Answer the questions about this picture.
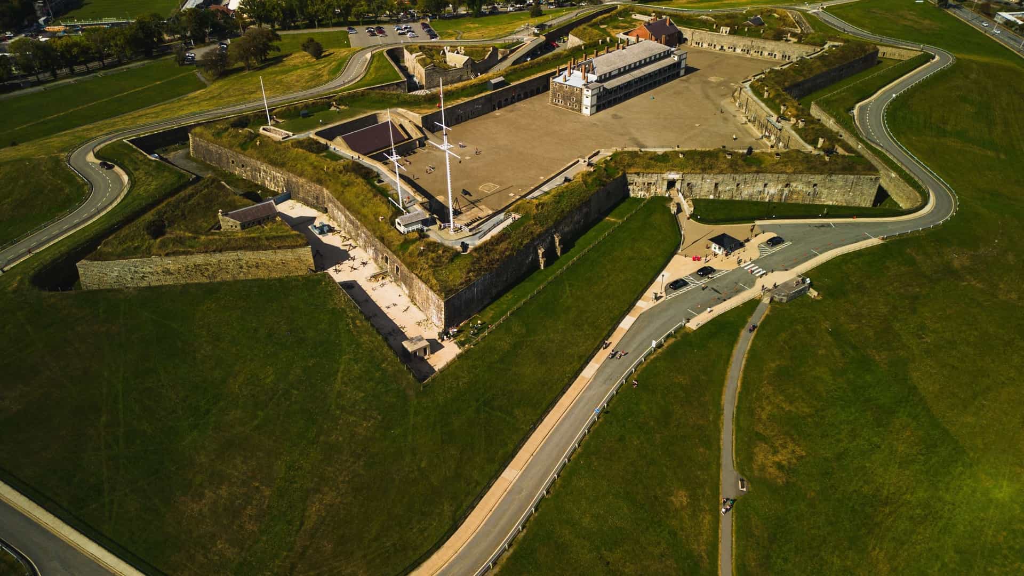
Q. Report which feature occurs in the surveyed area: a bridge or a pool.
bridge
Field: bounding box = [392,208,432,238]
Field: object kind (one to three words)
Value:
shed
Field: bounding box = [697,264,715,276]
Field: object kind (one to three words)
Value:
vehicle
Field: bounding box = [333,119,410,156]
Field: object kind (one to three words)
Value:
building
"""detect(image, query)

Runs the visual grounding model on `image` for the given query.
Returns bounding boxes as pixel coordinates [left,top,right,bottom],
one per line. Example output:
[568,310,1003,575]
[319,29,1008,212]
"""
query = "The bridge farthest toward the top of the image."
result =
[471,37,544,81]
